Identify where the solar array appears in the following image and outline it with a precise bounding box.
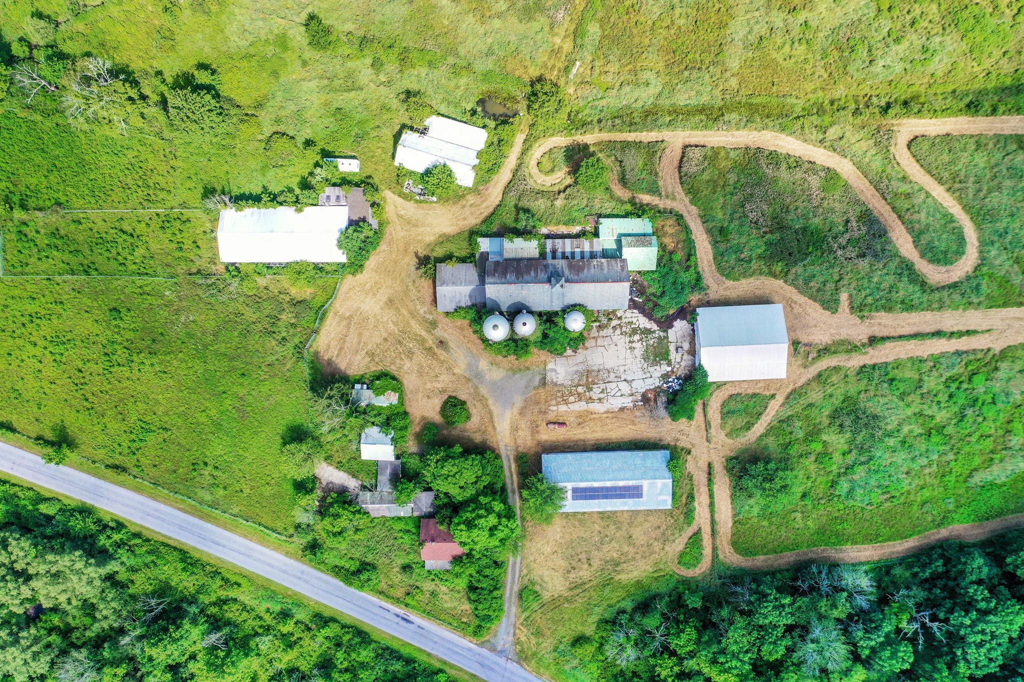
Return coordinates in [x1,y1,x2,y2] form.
[572,485,643,501]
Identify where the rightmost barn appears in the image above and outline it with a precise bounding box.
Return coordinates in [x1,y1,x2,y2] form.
[694,304,788,382]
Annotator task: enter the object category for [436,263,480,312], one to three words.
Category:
barn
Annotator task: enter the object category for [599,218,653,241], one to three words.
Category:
shed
